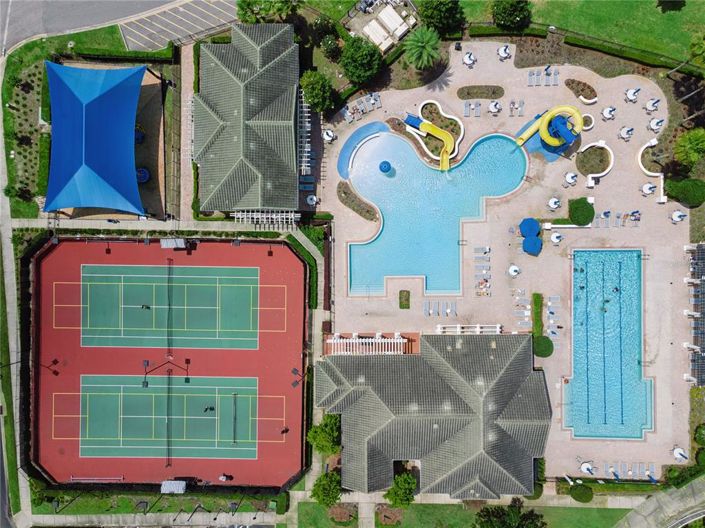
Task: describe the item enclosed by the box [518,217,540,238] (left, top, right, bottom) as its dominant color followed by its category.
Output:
blue umbrella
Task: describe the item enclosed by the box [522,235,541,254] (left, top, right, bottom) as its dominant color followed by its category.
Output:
blue umbrella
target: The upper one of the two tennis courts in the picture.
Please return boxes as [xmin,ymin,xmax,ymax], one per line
[34,242,304,363]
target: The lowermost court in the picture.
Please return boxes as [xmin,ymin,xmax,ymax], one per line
[34,361,304,486]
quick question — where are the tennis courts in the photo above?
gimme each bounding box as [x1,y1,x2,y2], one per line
[34,242,304,363]
[34,361,304,486]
